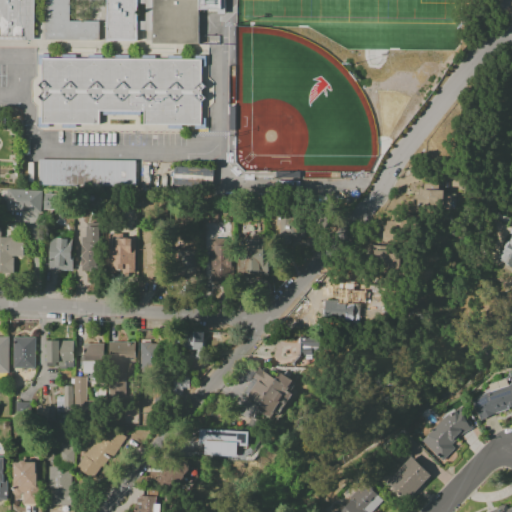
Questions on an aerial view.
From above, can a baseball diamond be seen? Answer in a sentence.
Yes, you can see a baseball diamond in this photo.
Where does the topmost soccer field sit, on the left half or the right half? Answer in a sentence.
You can find the topmost soccer field on the right side of the picture.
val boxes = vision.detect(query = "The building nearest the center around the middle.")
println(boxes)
[238,248,264,274]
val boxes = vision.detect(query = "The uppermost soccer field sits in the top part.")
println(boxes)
[238,0,473,50]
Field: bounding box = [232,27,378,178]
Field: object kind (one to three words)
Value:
baseball field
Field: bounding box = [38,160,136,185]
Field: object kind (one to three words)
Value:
building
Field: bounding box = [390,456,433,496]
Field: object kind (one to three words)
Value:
house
